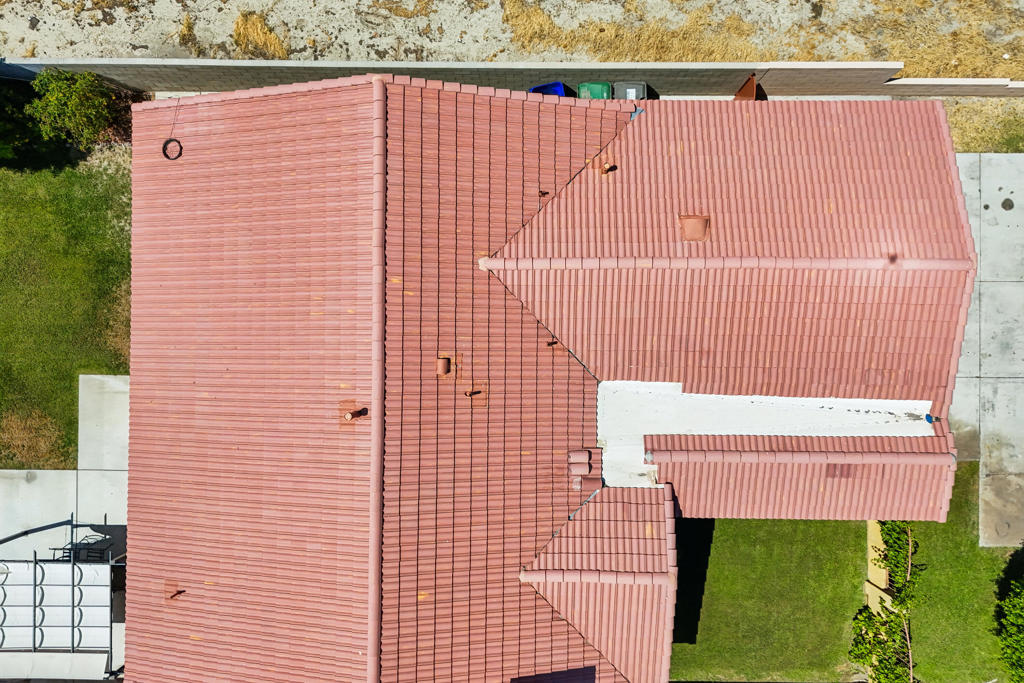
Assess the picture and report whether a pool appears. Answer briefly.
No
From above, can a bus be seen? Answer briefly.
No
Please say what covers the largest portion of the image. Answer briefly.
buildings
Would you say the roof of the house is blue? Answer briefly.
No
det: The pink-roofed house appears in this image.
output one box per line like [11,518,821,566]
[124,70,979,683]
